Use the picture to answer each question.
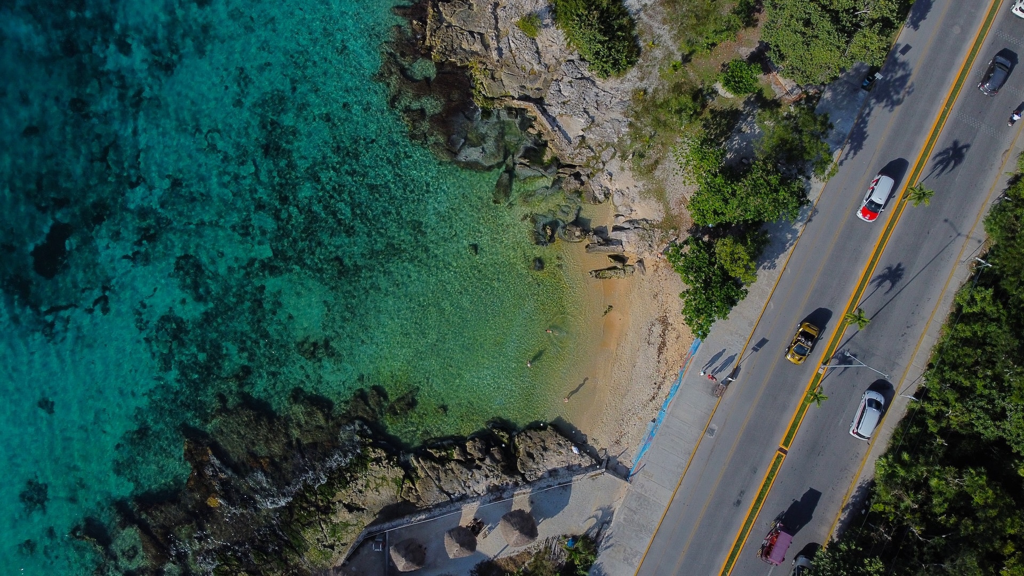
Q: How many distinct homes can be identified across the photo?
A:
zero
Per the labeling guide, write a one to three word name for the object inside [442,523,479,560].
umbrella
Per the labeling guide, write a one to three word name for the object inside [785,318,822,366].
car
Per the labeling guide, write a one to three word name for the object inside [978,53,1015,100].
car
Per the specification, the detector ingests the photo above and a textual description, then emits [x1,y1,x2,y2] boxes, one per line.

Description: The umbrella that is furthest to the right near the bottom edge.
[498,507,539,548]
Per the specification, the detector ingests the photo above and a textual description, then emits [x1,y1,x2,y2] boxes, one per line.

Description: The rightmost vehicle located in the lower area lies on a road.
[850,393,886,444]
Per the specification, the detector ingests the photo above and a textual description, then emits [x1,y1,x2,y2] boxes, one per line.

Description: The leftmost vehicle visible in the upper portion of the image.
[859,172,900,224]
